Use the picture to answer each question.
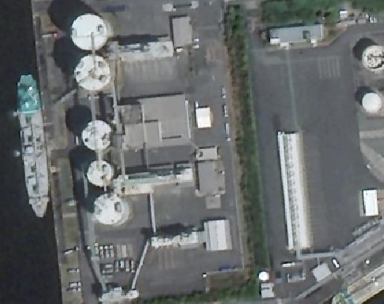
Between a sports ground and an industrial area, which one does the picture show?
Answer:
industrial area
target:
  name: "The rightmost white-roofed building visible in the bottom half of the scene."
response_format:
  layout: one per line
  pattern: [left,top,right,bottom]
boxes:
[365,189,379,216]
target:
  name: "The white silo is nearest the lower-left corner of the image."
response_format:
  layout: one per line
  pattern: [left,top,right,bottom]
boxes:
[93,194,130,226]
